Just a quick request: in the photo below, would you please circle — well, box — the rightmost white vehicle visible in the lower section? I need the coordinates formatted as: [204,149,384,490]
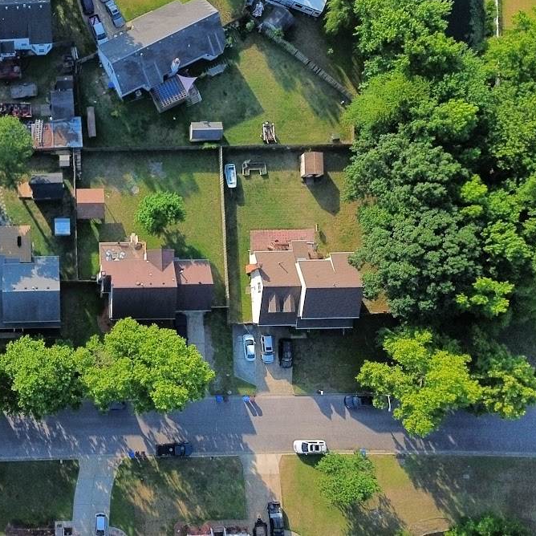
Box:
[292,439,329,456]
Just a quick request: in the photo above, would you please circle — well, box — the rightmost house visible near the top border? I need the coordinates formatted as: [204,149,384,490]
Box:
[97,0,231,108]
